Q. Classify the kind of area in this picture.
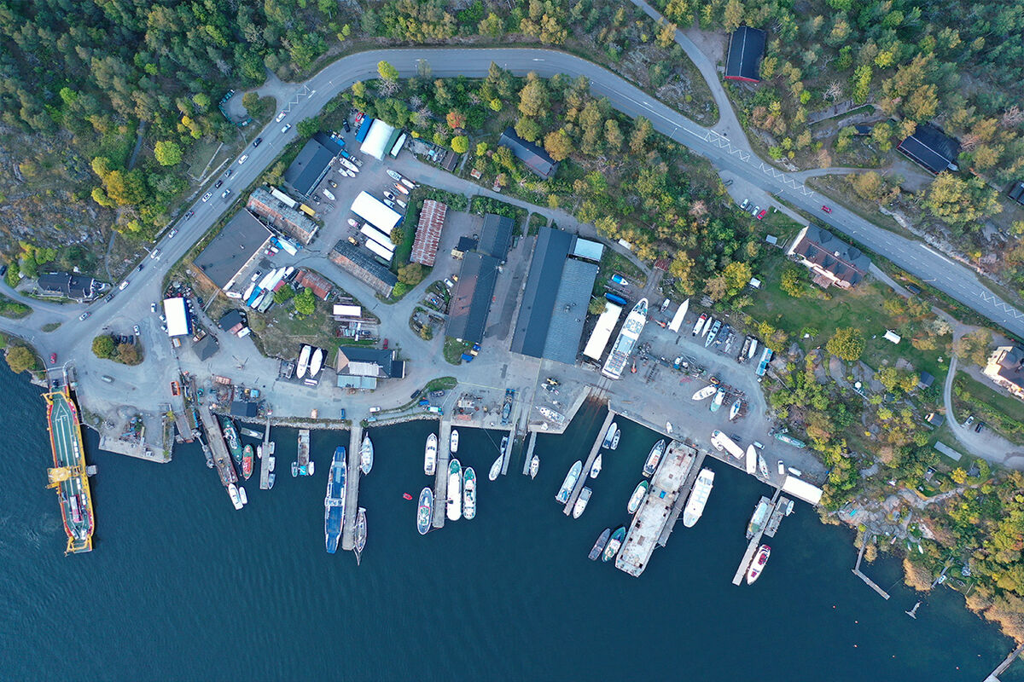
port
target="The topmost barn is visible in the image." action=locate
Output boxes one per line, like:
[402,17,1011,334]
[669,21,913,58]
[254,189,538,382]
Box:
[724,30,766,84]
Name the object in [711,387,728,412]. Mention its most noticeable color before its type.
white boat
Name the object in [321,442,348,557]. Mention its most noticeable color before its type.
blue ship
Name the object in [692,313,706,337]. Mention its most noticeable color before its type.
white boat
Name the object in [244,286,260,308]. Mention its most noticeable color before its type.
blue boat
